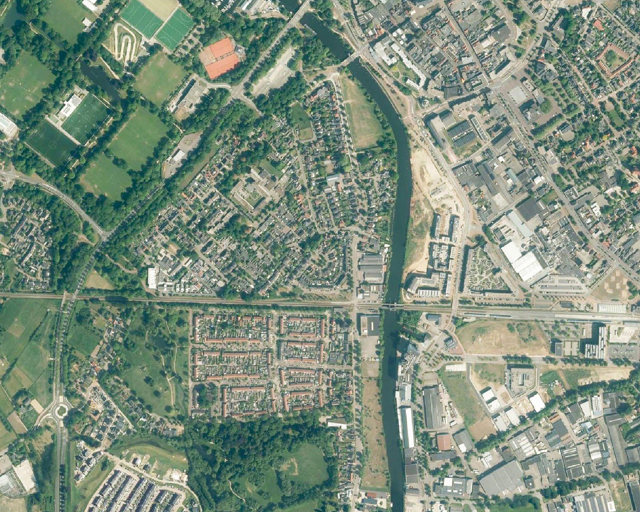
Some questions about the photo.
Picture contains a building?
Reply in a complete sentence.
Yes, a building appears in the view.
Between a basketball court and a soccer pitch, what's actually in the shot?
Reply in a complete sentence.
The one in the frame is a soccer pitch.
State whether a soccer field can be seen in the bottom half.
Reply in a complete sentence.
No, no soccer field is visible in the bottom half.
